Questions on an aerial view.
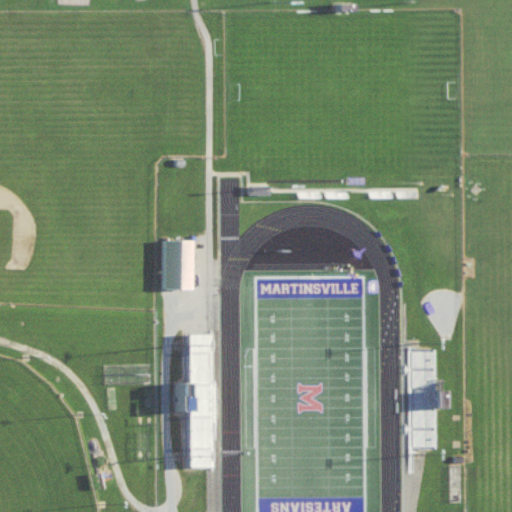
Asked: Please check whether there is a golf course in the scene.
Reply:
No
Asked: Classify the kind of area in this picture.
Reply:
sports ground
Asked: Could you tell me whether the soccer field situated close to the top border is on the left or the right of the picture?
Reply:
right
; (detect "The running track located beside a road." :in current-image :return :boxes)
[220,178,400,512]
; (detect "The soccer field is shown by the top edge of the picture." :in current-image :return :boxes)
[225,12,460,178]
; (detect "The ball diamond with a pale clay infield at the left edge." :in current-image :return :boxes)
[0,186,36,270]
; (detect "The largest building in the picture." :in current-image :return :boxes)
[163,240,196,291]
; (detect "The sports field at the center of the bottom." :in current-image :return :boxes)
[240,271,380,512]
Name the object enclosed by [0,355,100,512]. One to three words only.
baseball field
